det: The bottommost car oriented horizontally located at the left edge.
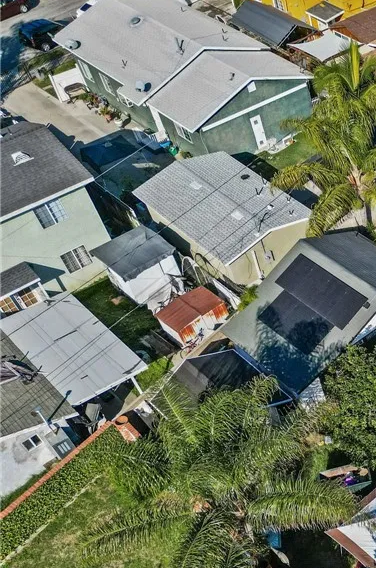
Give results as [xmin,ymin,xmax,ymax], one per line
[0,14,69,51]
